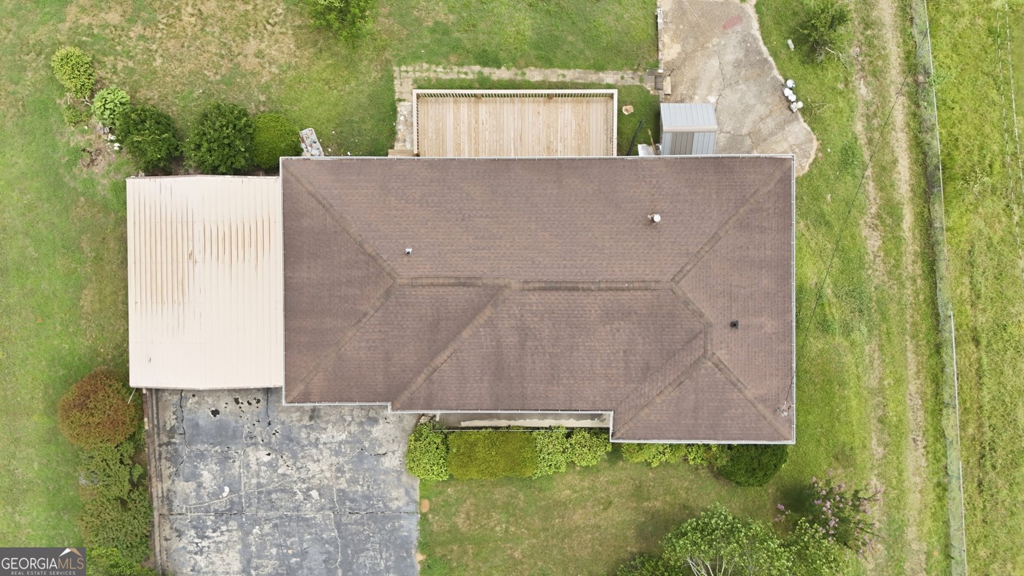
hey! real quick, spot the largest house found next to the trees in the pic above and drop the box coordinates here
[280,154,797,445]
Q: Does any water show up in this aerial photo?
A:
No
